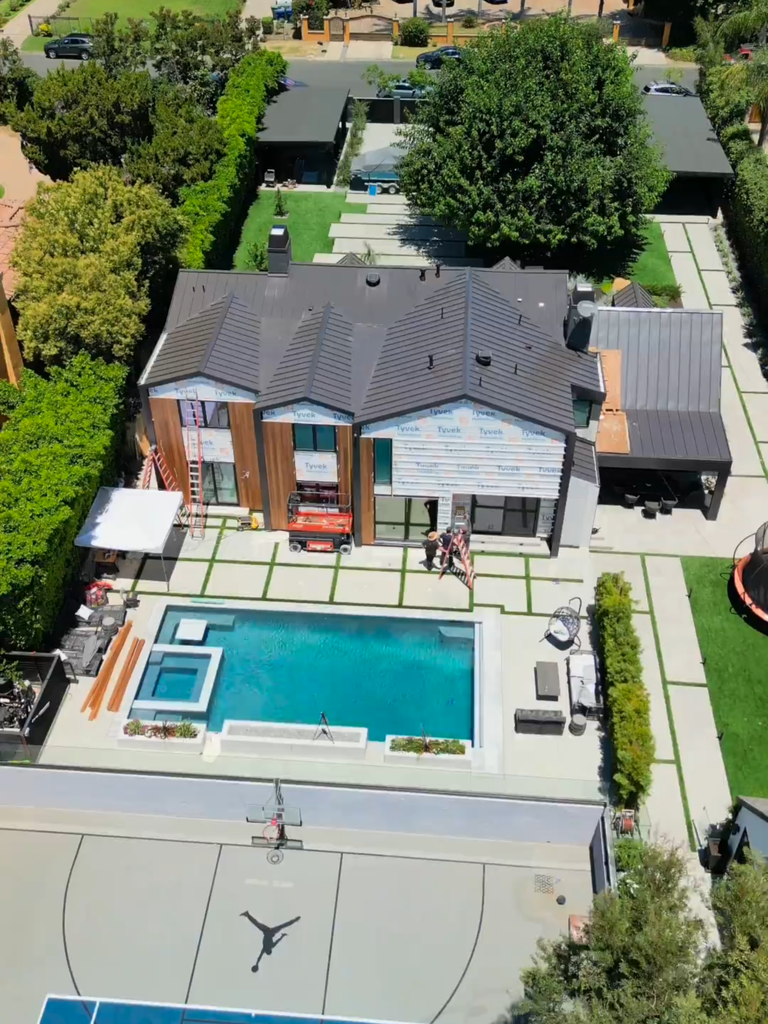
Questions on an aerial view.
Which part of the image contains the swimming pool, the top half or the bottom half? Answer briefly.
bottom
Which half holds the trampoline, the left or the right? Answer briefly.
right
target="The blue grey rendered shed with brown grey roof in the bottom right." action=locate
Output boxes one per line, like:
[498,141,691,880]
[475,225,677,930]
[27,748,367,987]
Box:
[727,798,768,882]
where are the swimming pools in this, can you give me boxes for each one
[96,597,507,765]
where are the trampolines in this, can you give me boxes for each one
[728,518,768,609]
